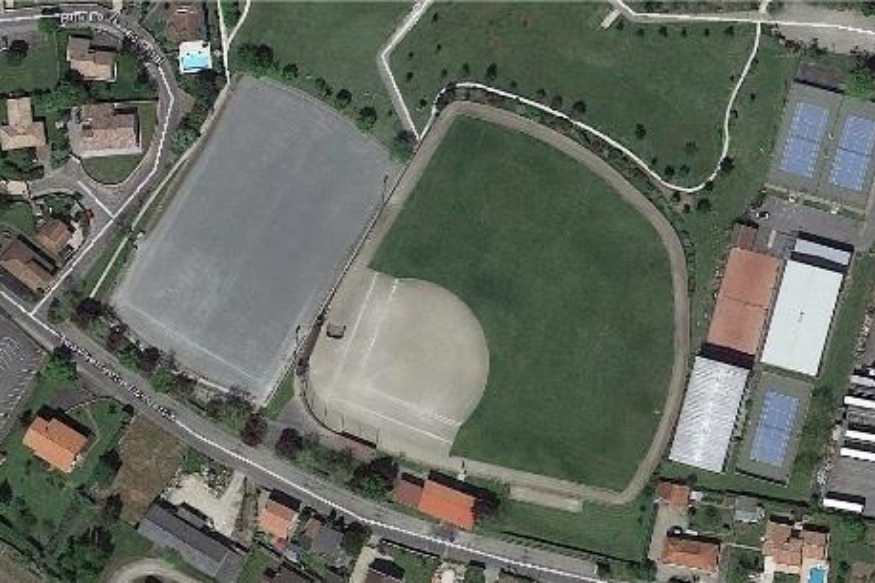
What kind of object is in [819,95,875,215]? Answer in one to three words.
tennis court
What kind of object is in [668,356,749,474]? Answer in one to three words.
building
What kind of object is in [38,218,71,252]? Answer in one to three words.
house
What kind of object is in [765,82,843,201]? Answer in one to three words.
tennis court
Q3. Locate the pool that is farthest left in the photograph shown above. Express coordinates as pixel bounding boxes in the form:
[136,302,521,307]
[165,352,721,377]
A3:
[180,42,213,73]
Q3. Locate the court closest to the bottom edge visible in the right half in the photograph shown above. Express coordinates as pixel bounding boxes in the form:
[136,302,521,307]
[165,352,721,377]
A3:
[736,371,813,486]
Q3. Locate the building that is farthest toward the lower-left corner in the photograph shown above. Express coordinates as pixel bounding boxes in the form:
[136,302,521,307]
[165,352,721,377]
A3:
[22,415,85,470]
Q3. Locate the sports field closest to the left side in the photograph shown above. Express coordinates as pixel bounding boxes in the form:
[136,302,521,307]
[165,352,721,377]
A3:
[109,76,391,405]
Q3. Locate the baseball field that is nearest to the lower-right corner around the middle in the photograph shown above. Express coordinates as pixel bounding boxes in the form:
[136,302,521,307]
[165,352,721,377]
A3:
[301,99,690,513]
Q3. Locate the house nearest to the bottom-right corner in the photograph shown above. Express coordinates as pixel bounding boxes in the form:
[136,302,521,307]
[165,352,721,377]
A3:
[766,522,828,563]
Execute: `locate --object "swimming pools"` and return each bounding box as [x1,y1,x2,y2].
[808,568,826,583]
[180,42,213,73]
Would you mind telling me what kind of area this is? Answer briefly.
sports ground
